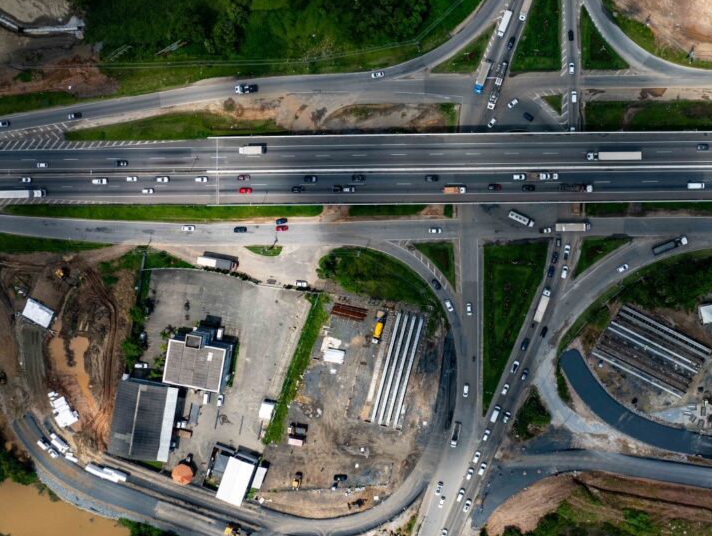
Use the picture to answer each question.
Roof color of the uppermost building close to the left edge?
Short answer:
white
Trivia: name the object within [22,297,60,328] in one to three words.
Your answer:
building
